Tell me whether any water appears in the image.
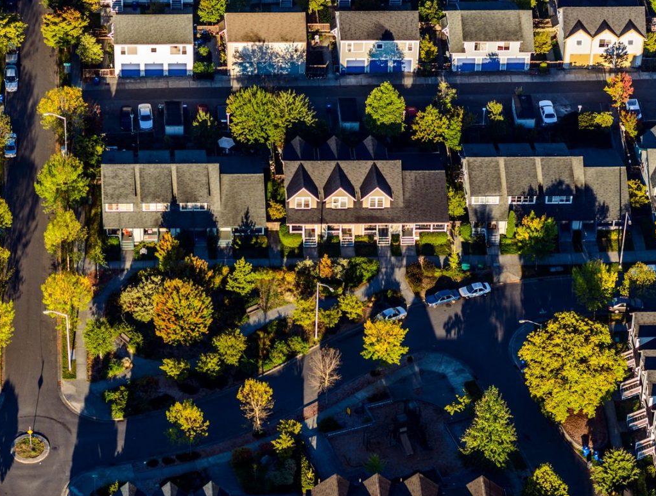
No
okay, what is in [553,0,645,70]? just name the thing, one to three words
house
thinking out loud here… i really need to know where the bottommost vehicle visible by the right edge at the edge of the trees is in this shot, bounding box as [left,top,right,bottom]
[608,293,646,312]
